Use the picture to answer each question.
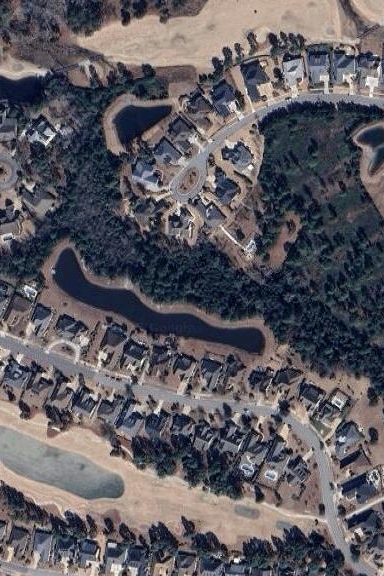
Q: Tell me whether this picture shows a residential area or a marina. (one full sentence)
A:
The picture captures a residential area.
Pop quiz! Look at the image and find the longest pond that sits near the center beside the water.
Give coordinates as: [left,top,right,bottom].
[50,244,267,357]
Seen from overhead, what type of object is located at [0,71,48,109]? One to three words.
pond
